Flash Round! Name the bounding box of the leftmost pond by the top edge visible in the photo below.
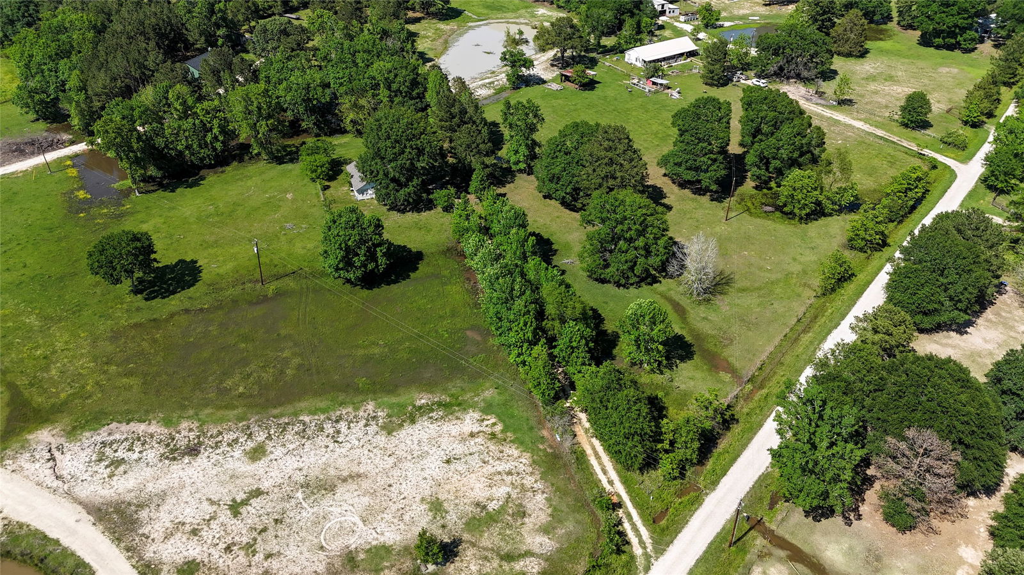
[443,24,545,80]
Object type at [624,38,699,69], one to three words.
house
